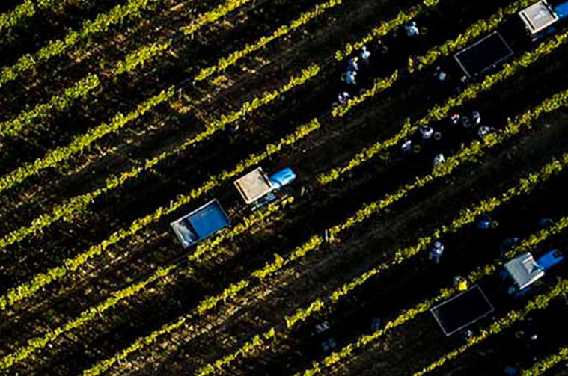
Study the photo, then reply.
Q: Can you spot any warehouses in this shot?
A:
No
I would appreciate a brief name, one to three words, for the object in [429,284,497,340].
trailer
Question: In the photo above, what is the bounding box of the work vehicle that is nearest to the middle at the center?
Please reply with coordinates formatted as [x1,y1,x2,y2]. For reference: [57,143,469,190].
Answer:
[231,166,295,214]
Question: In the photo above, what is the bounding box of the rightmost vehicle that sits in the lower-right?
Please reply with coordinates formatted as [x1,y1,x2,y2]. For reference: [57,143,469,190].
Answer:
[497,253,562,300]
